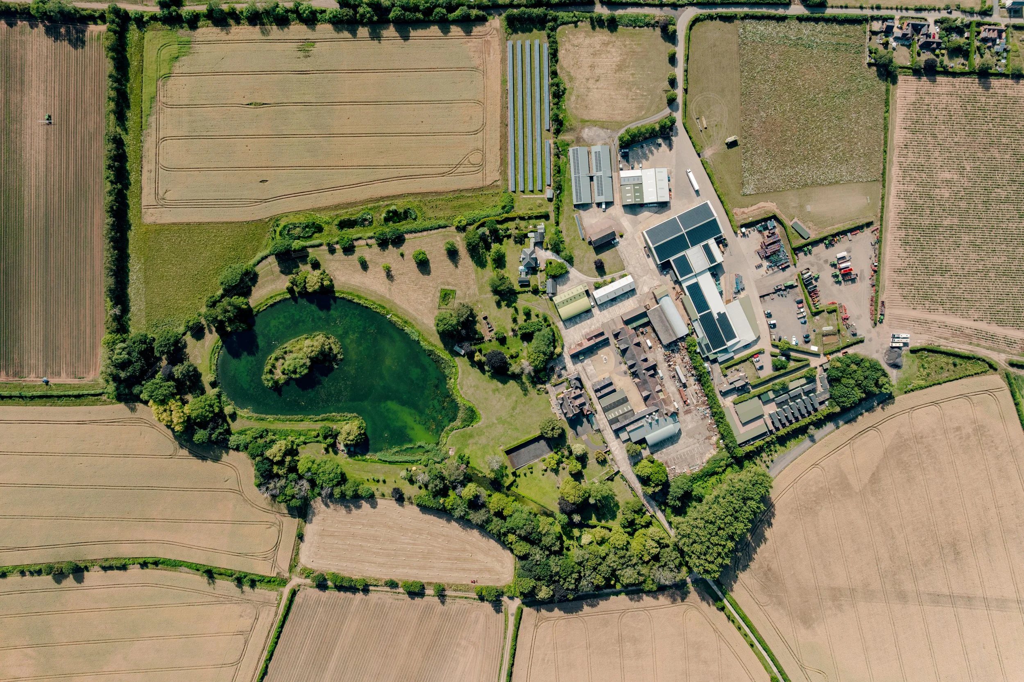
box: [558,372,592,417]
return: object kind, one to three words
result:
house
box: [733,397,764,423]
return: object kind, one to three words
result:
barn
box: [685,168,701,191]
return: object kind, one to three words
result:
vehicle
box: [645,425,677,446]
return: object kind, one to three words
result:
building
